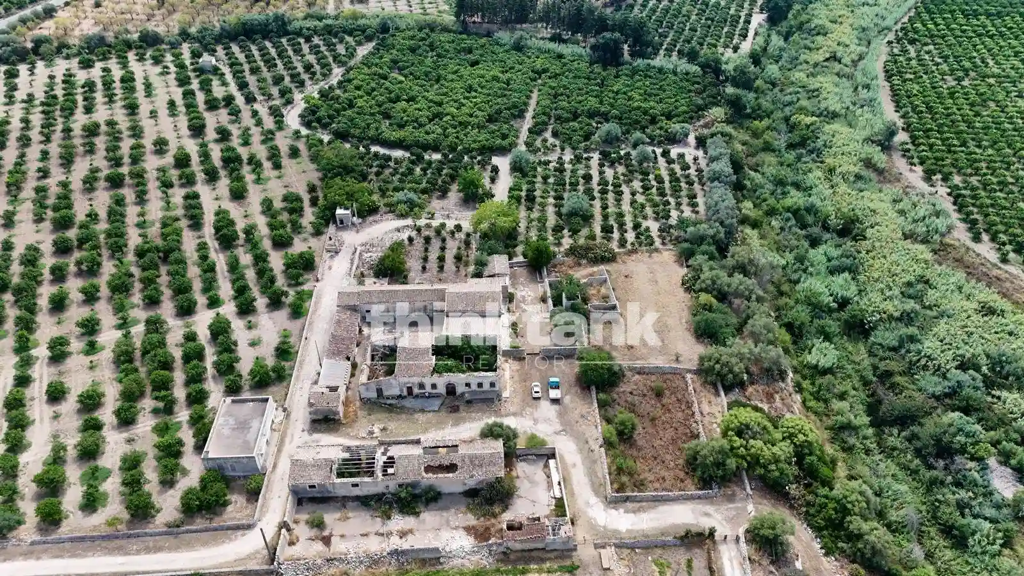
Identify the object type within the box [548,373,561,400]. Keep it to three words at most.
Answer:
vehicle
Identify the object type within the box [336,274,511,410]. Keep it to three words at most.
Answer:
house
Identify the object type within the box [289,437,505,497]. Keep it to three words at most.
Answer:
barn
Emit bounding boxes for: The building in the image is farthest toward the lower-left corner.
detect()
[202,396,277,476]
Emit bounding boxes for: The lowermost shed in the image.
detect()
[502,516,576,547]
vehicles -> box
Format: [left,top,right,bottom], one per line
[531,380,542,397]
[548,373,561,400]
